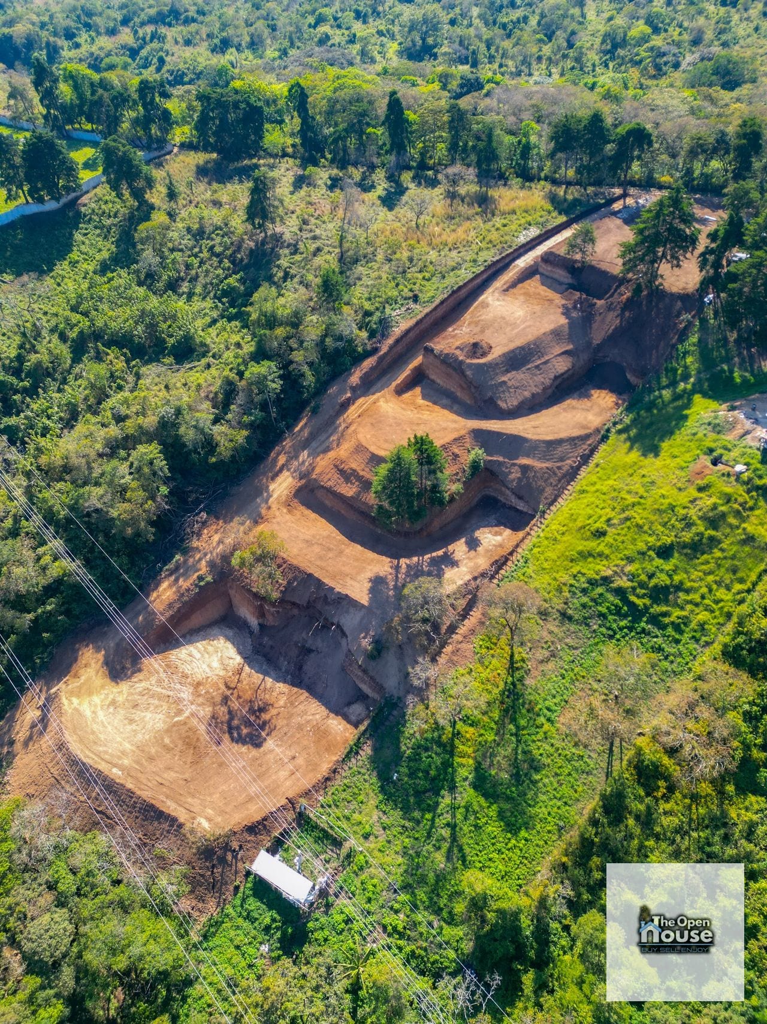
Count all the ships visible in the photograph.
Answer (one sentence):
There are no ships in the image.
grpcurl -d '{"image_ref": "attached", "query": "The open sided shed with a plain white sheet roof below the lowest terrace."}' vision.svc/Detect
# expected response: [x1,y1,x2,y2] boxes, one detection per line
[245,850,313,923]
